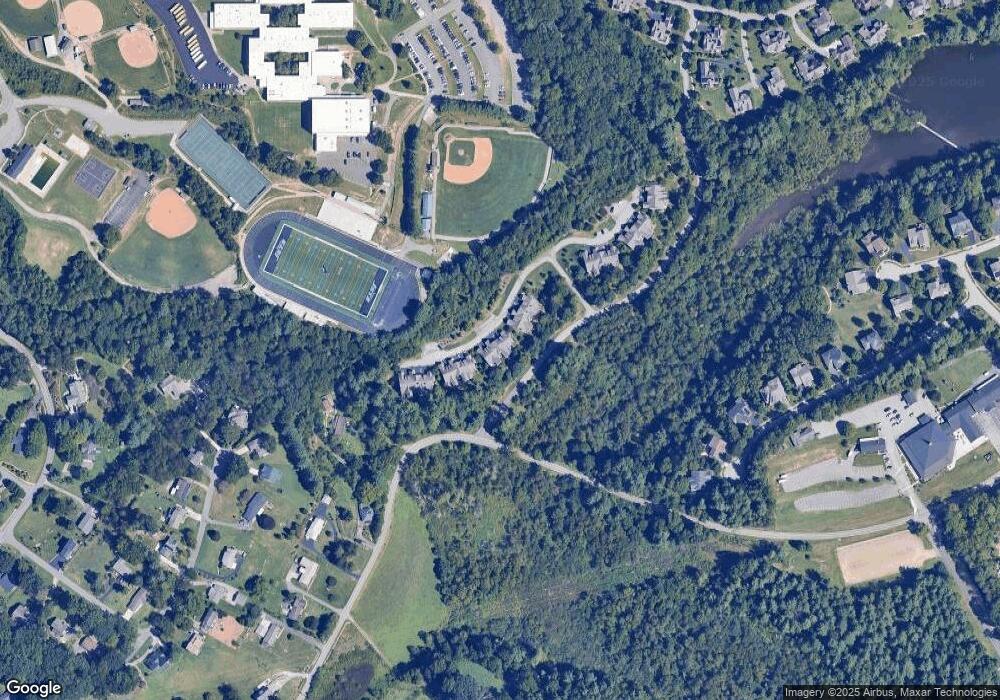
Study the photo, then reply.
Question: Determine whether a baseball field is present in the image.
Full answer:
Yes, you can see a baseball field in this photo.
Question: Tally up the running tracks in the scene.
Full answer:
The picture shows just 1 running track.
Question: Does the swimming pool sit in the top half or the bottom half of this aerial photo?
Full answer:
You can find the swimming pool in the top half.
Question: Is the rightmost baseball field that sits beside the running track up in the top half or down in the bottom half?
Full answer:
It is in the top half that the rightmost baseball field that sits beside the running track appears.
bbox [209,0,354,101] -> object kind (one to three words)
building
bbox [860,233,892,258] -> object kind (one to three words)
house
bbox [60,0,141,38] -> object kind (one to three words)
baseball field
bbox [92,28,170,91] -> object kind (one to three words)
baseball field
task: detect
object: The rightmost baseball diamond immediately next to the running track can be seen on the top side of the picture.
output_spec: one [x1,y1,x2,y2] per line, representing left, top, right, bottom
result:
[436,128,549,243]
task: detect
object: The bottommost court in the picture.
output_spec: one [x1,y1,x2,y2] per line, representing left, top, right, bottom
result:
[72,154,118,200]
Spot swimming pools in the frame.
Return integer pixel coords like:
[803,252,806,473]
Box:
[16,144,67,197]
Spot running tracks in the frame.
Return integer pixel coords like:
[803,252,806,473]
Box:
[244,211,422,333]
